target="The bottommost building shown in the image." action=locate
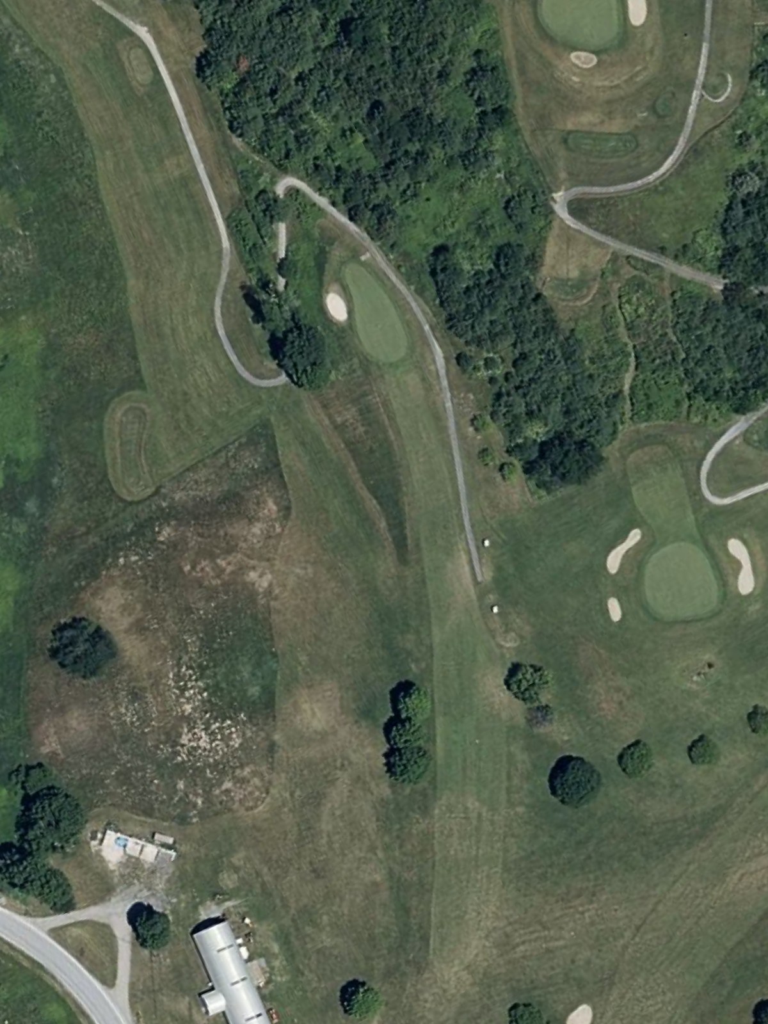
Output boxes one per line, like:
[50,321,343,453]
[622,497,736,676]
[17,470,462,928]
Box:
[194,922,270,1024]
